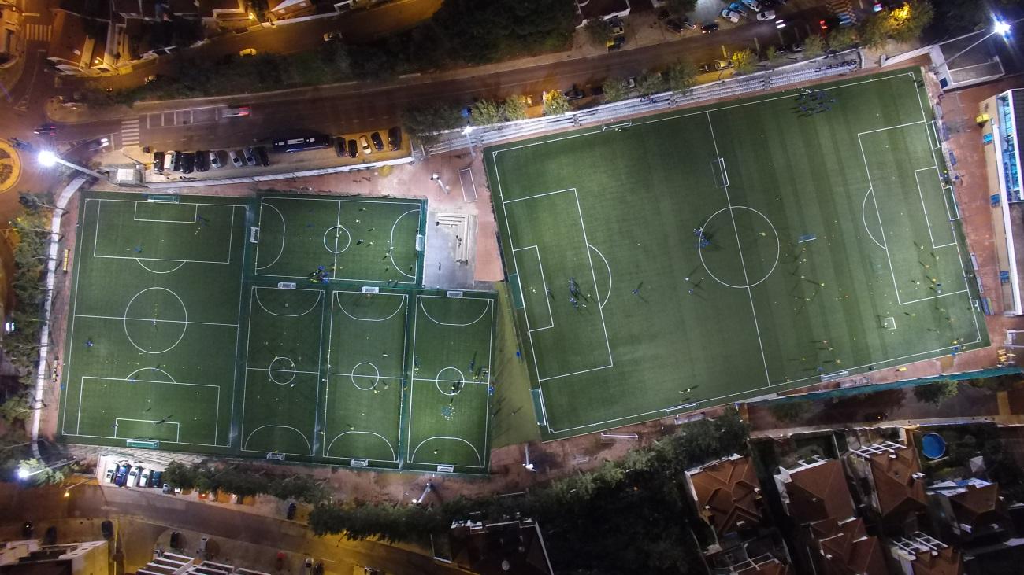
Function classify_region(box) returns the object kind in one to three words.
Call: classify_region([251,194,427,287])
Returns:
soccer field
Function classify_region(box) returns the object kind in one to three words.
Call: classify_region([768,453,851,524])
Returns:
house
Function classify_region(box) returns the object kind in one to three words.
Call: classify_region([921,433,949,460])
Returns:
swimming pool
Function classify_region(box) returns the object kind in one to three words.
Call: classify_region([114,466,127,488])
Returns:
vehicle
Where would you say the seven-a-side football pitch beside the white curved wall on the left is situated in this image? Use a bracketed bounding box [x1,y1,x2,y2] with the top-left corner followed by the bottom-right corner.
[58,190,254,458]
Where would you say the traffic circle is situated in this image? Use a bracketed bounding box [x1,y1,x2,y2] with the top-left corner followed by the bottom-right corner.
[0,139,21,192]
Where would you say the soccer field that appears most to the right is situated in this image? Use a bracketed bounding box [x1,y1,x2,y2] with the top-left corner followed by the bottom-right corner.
[484,66,991,444]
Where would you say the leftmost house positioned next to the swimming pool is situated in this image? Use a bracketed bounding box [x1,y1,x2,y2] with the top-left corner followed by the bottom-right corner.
[841,429,929,516]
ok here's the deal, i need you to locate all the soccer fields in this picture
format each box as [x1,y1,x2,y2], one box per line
[58,190,254,458]
[251,194,427,287]
[404,288,497,475]
[239,284,329,463]
[484,66,991,444]
[318,286,413,470]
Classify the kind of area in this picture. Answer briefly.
sports ground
